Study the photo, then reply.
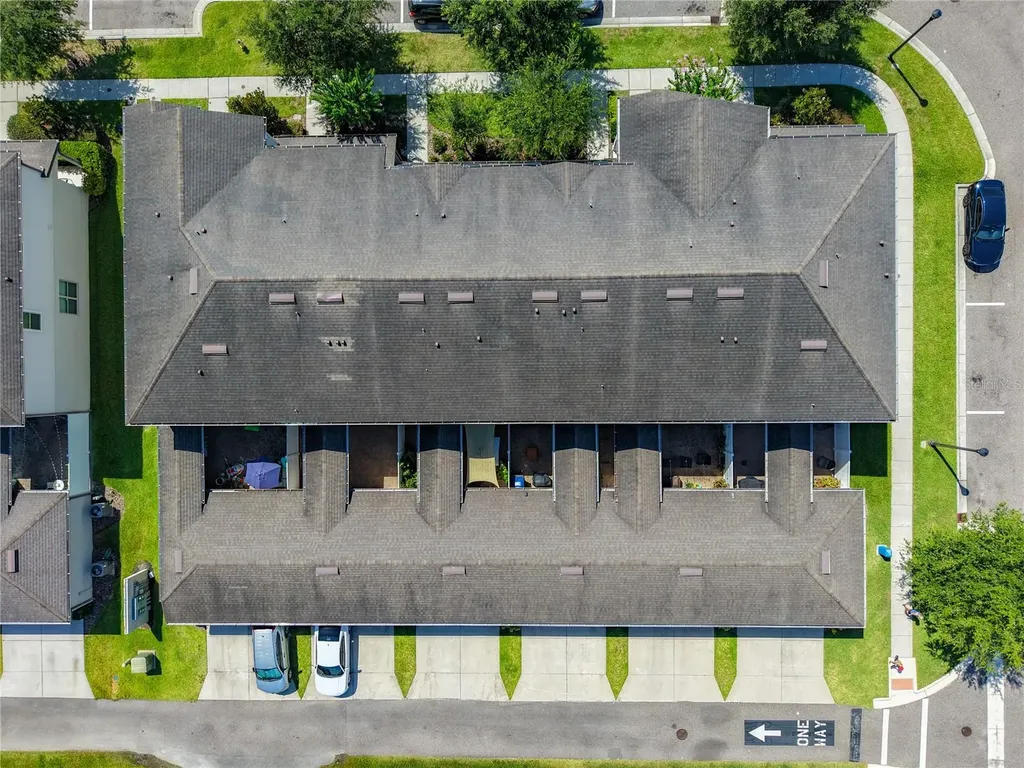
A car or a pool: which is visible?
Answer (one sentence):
The one in the frame is a car.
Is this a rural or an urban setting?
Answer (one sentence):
The land in this view is best described as urban.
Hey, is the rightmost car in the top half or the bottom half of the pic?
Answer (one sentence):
It is in the top half that the rightmost car appears.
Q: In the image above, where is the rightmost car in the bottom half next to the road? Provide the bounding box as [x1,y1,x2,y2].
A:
[311,625,352,700]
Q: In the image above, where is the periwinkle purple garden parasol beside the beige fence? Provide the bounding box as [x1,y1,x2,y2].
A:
[246,458,283,490]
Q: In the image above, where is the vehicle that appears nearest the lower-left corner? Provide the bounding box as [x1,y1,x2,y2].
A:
[249,624,292,696]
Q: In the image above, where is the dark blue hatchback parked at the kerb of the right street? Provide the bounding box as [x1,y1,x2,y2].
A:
[960,180,1009,271]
